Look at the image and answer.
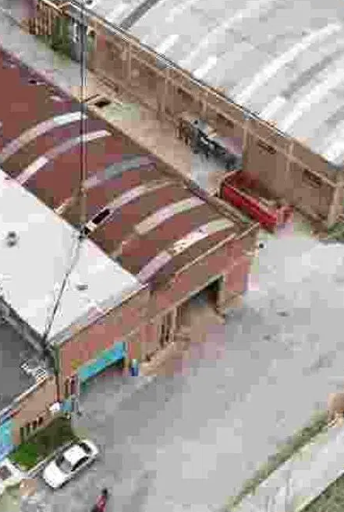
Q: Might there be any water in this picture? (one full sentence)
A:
No, the scene doesn't show any water.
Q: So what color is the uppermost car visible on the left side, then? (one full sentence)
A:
In this view, the uppermost car visible on the left side is white.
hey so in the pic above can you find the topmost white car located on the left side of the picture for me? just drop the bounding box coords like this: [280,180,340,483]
[39,429,100,482]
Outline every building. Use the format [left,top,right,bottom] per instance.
[0,43,258,419]
[62,0,344,233]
